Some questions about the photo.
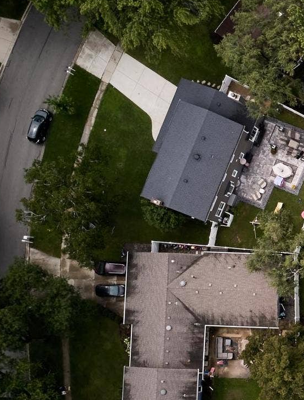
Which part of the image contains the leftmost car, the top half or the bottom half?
top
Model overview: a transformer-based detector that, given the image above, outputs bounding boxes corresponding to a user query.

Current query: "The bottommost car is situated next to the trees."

[92,281,128,299]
